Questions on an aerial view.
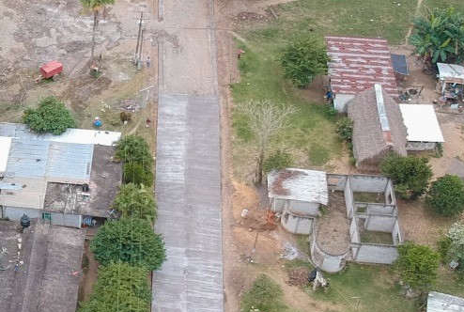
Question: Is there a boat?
No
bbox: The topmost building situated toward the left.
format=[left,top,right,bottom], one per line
[0,123,123,226]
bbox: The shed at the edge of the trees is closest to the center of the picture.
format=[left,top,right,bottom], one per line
[267,168,327,215]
